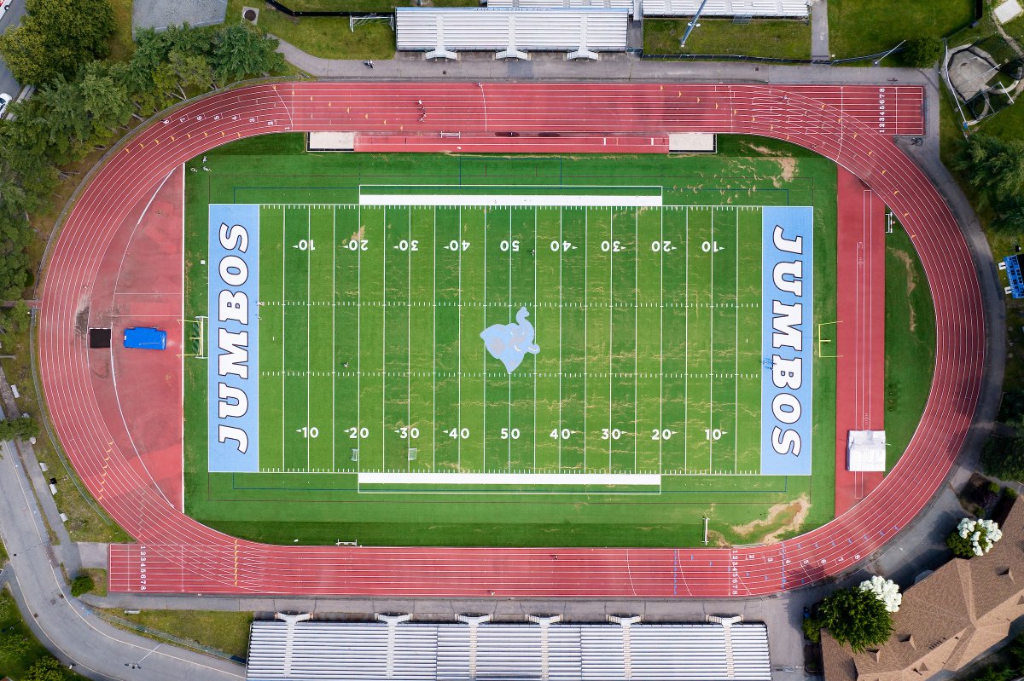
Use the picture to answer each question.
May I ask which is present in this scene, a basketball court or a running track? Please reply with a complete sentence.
This aerial view contains a running track.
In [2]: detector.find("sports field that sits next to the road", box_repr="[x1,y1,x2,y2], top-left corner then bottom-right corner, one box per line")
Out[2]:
[184,132,936,547]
